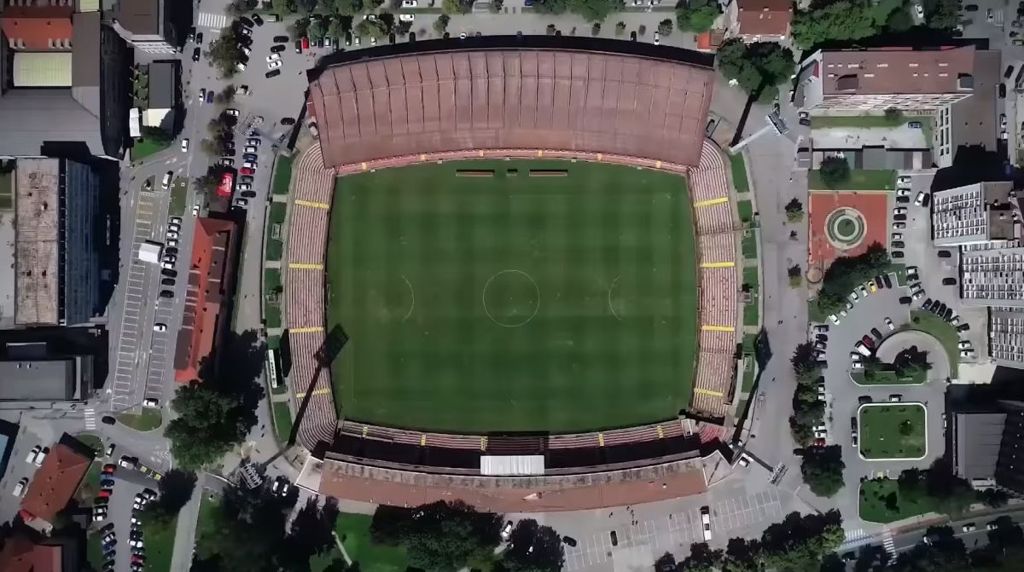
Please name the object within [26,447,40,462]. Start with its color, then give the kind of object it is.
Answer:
white vehicle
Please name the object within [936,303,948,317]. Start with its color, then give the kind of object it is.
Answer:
black vehicle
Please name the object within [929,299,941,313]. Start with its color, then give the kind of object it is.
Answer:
black vehicle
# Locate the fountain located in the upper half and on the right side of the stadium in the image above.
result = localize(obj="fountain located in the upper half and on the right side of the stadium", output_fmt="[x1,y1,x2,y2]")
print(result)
[825,207,867,249]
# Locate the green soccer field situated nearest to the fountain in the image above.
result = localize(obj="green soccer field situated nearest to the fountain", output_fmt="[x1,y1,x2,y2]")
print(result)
[328,161,698,436]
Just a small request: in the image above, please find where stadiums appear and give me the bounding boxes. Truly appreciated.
[280,48,744,514]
